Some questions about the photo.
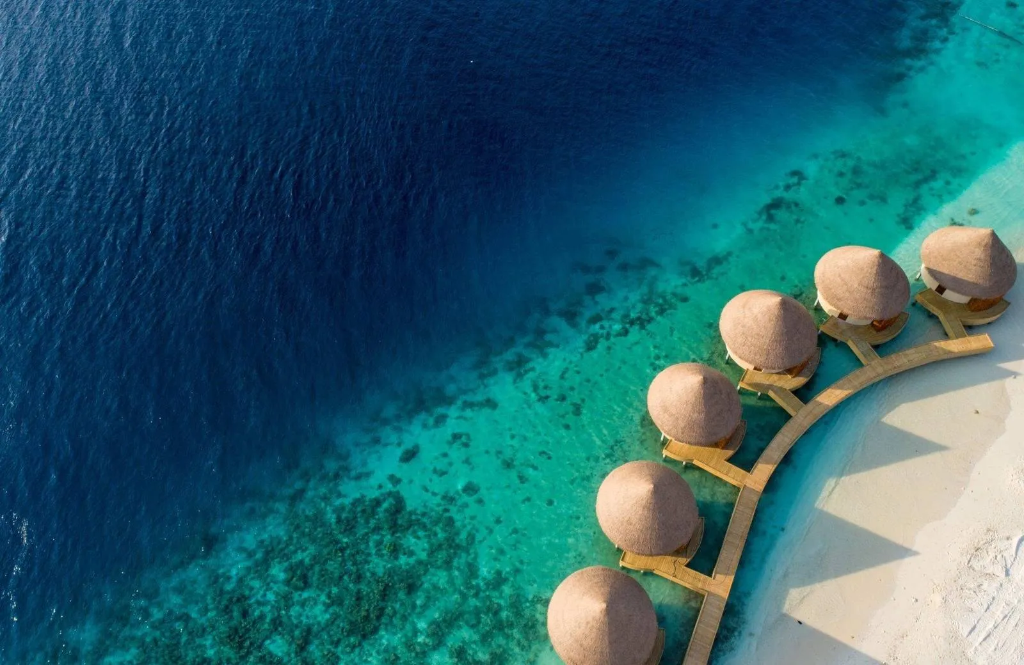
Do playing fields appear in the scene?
No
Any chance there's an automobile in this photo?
No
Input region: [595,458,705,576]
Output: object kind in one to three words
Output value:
shed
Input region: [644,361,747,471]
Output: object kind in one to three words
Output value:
shed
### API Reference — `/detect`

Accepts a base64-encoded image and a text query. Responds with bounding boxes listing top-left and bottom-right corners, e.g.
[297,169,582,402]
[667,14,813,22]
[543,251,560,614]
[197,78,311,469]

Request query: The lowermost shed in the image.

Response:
[548,565,664,665]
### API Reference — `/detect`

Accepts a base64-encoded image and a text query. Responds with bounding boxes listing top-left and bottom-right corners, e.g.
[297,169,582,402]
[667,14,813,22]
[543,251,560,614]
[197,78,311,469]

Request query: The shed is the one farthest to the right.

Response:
[911,224,1018,325]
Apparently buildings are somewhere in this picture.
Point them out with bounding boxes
[548,565,664,665]
[595,458,705,576]
[911,224,1018,325]
[644,361,747,471]
[813,245,910,350]
[721,289,821,402]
